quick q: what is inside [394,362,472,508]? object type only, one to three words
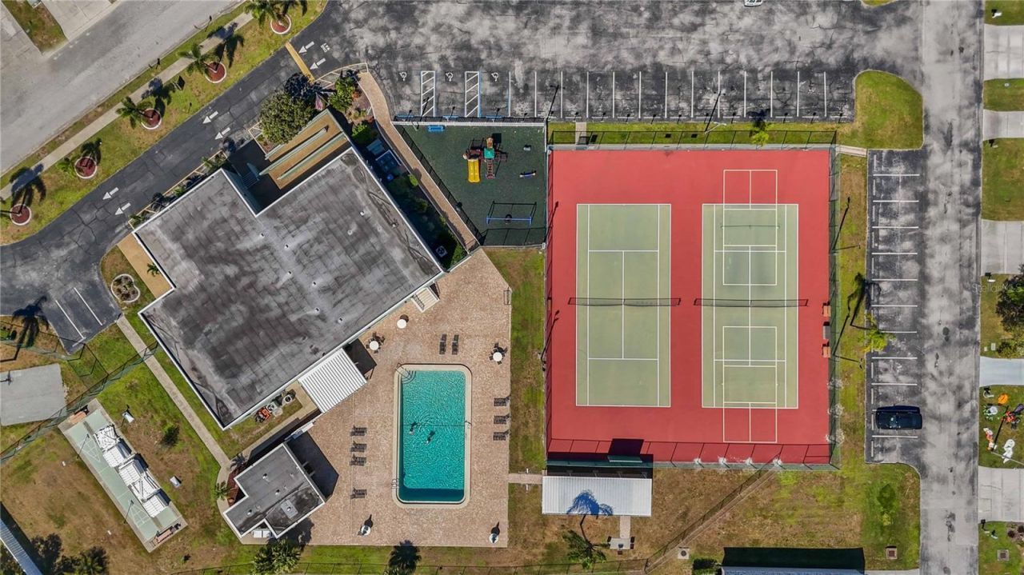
swimming pool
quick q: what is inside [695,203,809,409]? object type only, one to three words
tennis court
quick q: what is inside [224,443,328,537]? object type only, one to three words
building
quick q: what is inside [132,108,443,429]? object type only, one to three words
building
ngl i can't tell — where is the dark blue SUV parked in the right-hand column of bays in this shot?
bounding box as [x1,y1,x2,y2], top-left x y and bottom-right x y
[877,408,926,430]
